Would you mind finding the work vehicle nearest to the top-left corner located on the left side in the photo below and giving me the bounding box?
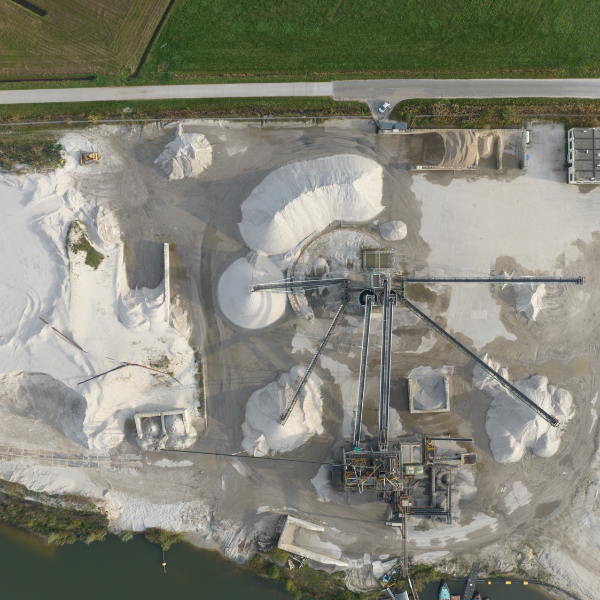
[83,151,101,165]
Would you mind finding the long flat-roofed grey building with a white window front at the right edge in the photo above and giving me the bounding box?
[567,127,600,183]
